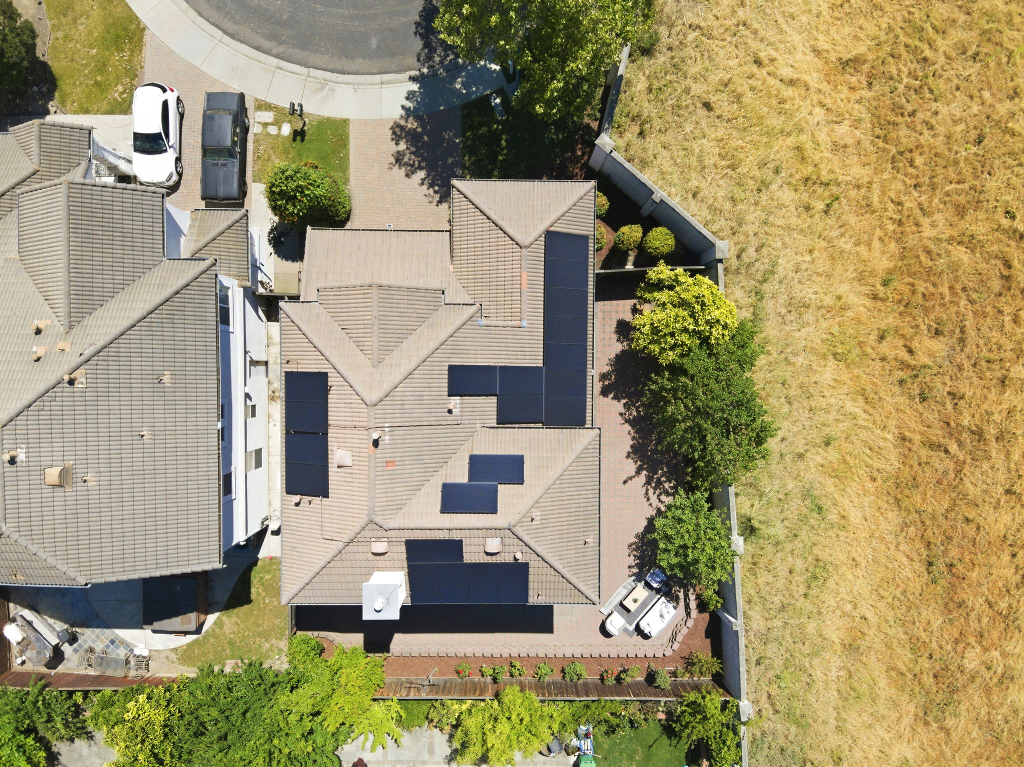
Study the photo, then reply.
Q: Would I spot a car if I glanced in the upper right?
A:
No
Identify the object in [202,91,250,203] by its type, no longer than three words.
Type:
car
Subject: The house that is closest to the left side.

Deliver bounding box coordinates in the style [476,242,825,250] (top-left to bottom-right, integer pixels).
[0,121,272,587]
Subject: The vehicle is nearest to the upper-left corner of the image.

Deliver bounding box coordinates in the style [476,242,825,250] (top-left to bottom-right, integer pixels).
[129,84,188,190]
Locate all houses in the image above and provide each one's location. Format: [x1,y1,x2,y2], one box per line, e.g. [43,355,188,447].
[0,121,272,587]
[279,180,601,619]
